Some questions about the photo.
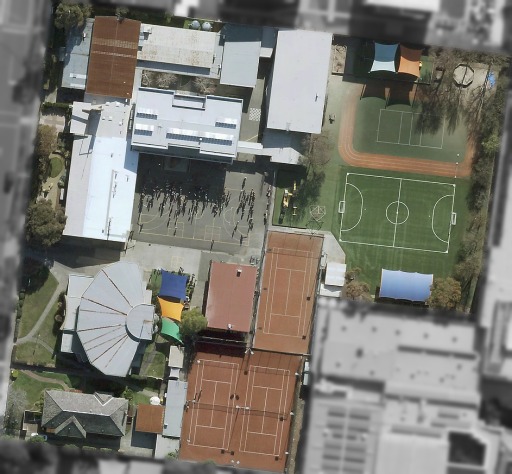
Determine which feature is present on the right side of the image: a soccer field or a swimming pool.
soccer field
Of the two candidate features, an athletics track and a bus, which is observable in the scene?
athletics track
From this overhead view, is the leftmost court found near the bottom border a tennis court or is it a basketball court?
tennis court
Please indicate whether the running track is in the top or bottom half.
top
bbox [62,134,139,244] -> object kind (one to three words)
building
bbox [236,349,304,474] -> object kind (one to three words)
tennis court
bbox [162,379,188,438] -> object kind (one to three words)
shed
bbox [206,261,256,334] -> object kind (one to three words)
building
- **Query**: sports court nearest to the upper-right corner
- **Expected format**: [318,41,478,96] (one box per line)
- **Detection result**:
[352,80,466,162]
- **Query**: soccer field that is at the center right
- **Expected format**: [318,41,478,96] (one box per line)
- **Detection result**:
[331,168,476,305]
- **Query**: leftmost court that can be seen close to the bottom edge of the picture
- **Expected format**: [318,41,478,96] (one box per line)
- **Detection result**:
[177,344,249,470]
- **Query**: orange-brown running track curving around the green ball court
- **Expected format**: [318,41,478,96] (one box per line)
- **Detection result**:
[340,82,474,178]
